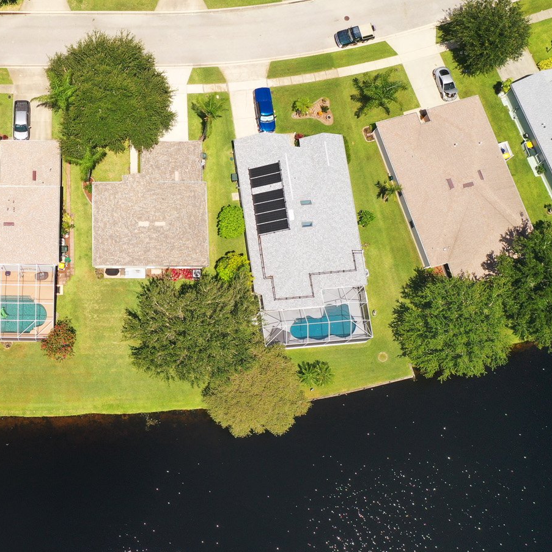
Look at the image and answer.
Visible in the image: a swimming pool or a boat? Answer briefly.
swimming pool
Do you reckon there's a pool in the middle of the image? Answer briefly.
Yes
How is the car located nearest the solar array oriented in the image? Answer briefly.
up and down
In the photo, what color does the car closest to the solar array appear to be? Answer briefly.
blue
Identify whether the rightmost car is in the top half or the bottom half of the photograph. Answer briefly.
top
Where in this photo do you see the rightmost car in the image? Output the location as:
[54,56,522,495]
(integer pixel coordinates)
[436,62,461,99]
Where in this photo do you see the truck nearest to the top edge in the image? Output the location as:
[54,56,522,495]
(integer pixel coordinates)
[335,18,379,44]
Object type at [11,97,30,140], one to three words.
vehicle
